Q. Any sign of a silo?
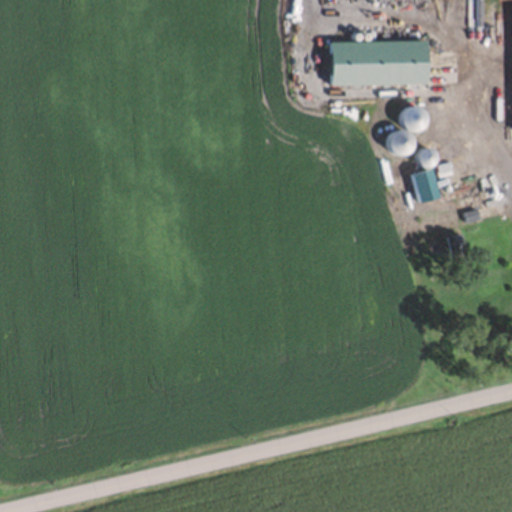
Yes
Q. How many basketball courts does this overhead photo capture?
0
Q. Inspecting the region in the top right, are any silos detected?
Yes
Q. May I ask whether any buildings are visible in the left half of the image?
No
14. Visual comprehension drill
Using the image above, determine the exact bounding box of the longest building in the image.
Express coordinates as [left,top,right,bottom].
[328,42,430,86]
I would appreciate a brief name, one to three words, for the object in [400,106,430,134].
silo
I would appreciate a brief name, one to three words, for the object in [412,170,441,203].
shed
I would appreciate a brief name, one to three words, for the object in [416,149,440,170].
silo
